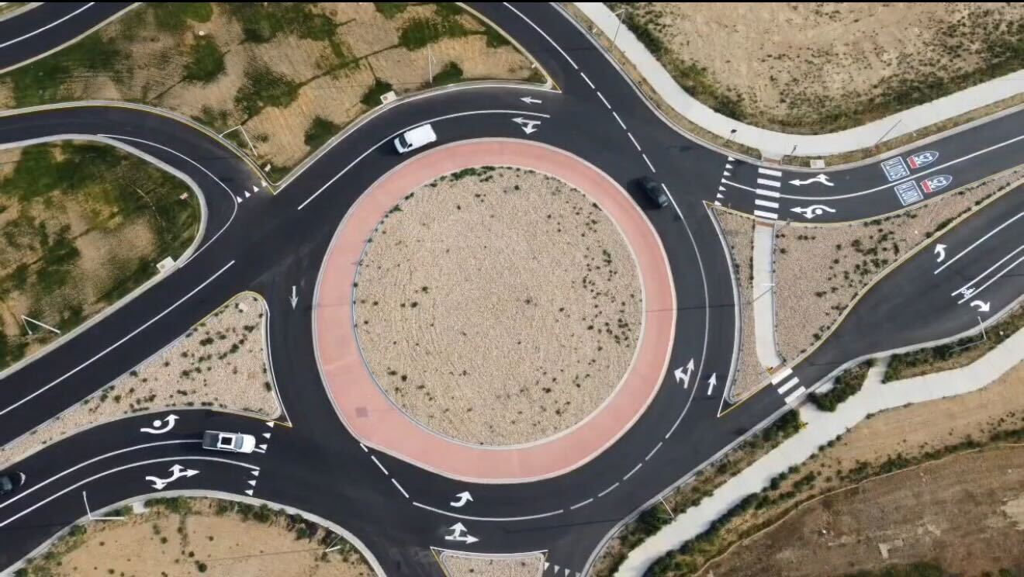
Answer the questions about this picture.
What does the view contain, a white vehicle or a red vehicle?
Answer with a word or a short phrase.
white vehicle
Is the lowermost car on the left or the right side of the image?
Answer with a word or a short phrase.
left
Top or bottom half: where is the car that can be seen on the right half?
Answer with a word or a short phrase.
top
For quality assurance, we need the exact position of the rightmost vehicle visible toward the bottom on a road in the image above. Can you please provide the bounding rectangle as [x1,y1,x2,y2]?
[202,430,259,453]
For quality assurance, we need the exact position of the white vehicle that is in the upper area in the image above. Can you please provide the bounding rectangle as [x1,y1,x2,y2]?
[396,124,437,155]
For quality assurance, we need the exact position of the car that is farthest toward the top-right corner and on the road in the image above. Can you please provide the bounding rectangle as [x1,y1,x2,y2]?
[636,175,670,210]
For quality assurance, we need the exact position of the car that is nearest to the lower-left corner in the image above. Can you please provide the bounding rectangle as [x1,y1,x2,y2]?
[0,470,31,502]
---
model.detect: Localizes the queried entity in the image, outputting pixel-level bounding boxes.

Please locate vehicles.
[0,470,31,502]
[636,175,670,210]
[396,124,437,155]
[202,430,259,453]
